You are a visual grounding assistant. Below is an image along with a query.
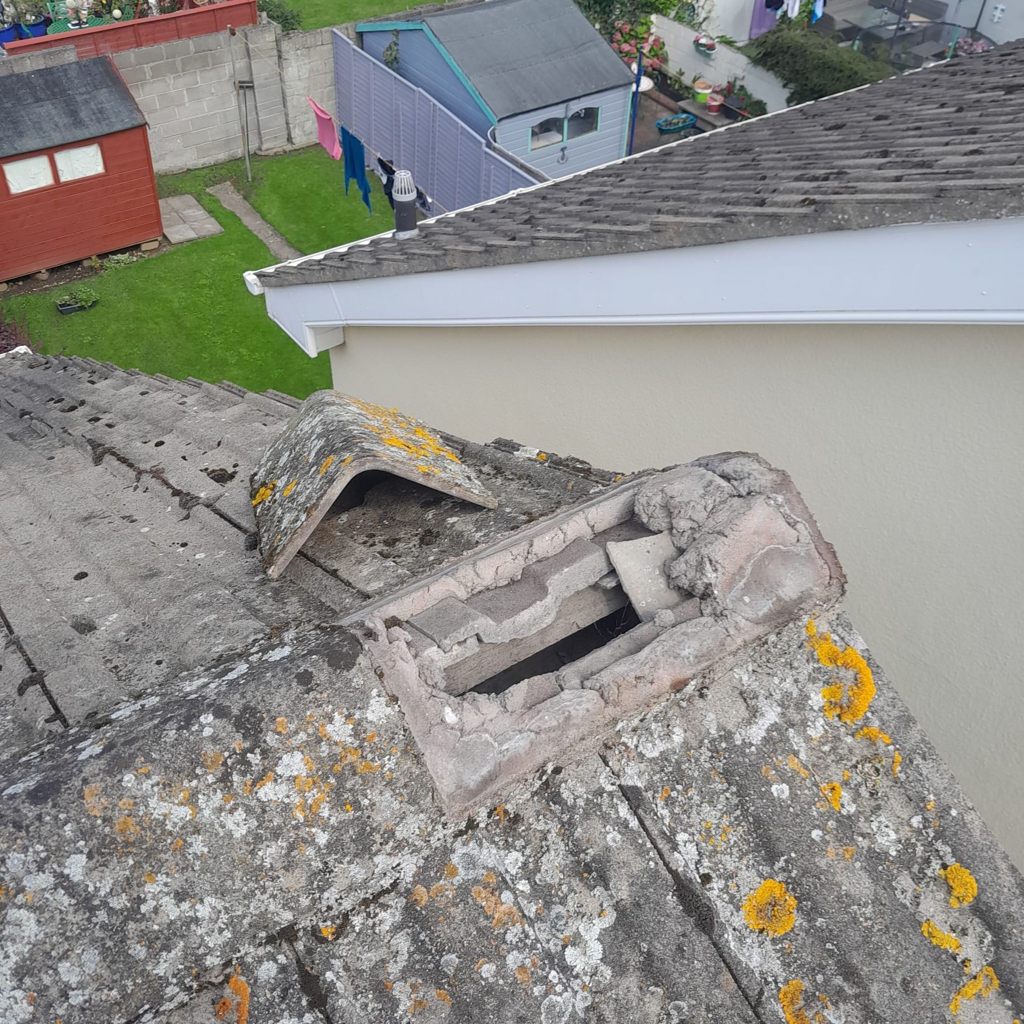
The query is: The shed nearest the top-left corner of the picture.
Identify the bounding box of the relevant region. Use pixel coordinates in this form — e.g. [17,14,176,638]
[0,53,166,281]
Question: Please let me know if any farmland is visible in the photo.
No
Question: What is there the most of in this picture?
buildings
